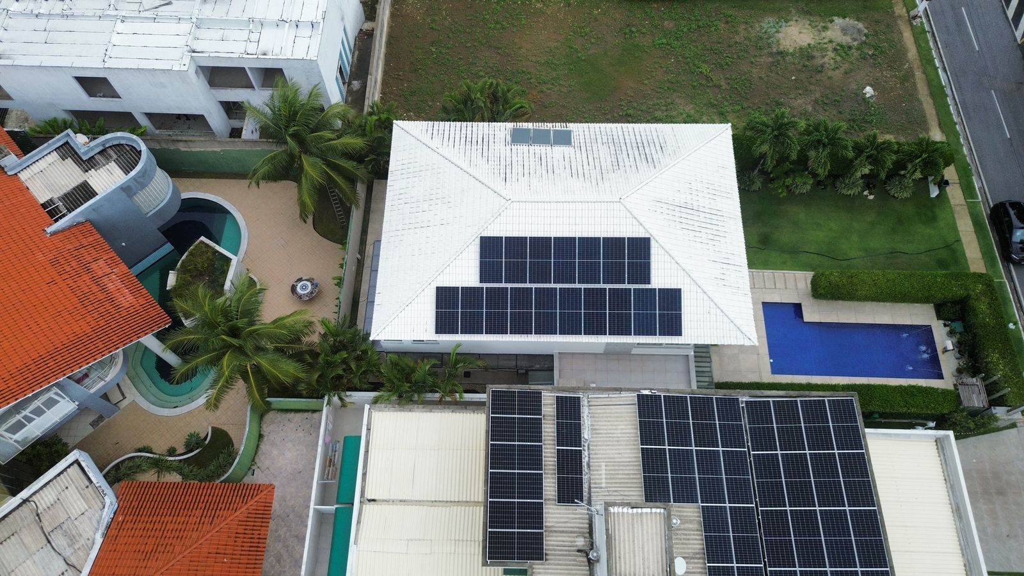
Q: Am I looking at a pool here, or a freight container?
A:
pool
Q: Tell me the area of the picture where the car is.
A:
right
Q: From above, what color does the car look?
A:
black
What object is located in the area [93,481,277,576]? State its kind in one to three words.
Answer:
house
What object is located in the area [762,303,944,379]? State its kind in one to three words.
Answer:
swimming pool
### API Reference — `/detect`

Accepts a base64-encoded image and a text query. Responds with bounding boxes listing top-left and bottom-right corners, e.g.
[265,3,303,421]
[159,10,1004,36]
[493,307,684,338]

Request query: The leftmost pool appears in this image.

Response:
[135,195,240,408]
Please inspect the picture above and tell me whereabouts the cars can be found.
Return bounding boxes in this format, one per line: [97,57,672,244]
[992,198,1024,269]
